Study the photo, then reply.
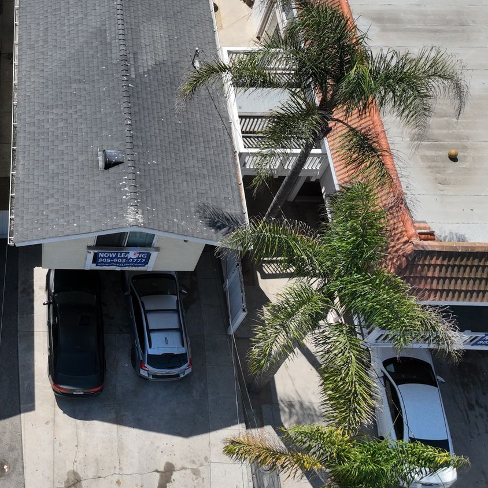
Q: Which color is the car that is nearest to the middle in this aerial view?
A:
black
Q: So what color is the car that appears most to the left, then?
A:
black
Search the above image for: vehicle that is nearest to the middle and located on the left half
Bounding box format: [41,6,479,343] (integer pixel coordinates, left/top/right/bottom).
[120,270,192,383]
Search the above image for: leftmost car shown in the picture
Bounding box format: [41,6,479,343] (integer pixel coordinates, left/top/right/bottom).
[41,268,110,399]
